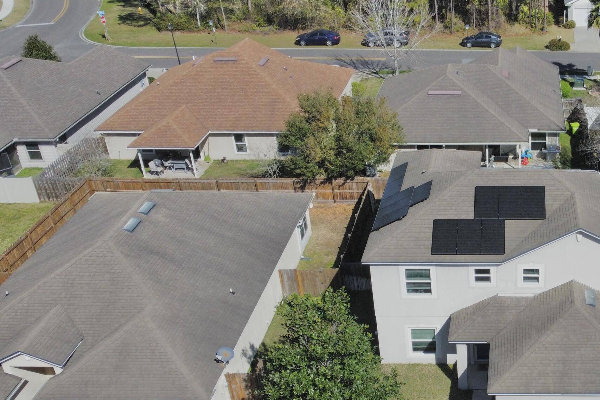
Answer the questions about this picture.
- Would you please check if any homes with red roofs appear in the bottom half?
No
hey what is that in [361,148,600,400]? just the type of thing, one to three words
house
